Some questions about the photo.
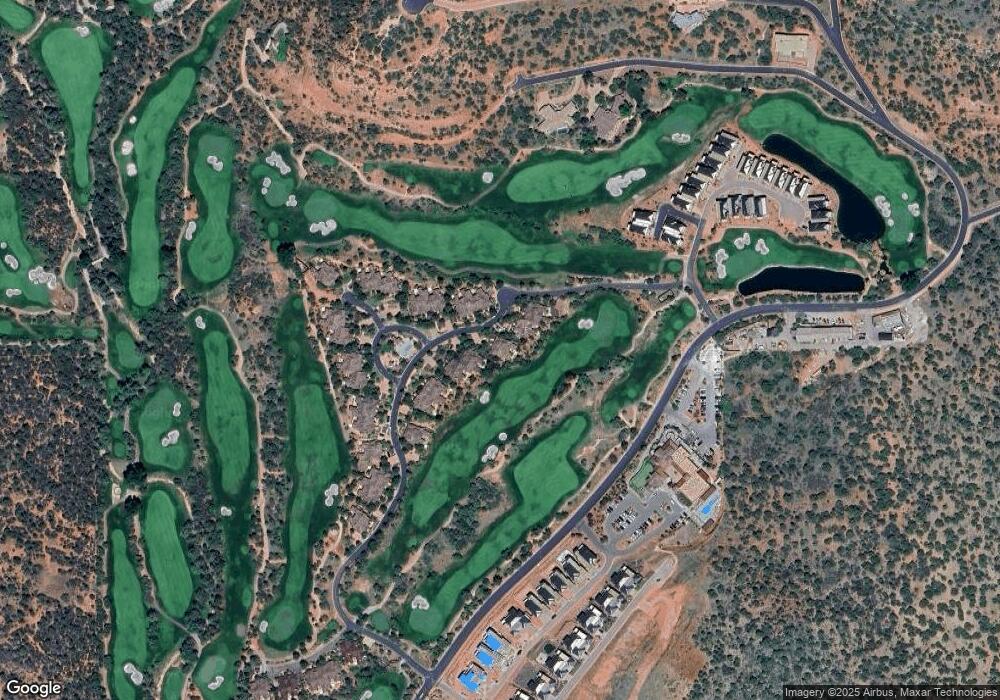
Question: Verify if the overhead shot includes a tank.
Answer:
No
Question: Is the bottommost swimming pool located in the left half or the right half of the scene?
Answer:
right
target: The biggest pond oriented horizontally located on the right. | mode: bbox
[740,267,864,295]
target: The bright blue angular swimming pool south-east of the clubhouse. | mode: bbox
[696,490,722,523]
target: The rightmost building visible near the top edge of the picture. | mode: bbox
[774,32,809,64]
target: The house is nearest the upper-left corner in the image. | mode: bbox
[310,259,336,289]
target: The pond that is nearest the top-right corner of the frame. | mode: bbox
[762,134,886,243]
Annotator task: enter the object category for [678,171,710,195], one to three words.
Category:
house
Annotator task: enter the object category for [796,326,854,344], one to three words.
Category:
shed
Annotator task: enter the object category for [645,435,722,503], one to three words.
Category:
building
